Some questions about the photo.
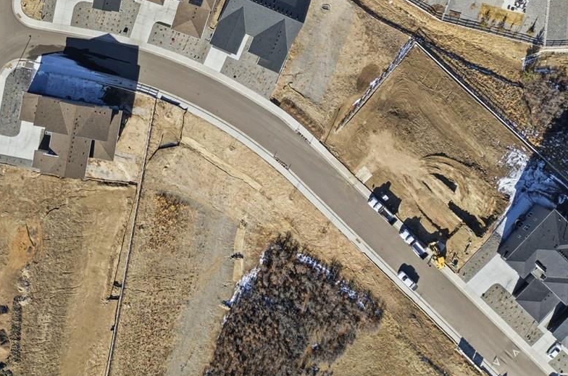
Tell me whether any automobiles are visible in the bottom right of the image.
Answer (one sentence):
Yes, an automobile can be seen in the bottom right of the image.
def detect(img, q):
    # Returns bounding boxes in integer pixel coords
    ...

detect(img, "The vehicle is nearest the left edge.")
[369,199,402,230]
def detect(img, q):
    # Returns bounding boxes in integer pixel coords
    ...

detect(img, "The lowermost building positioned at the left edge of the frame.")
[19,89,120,178]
